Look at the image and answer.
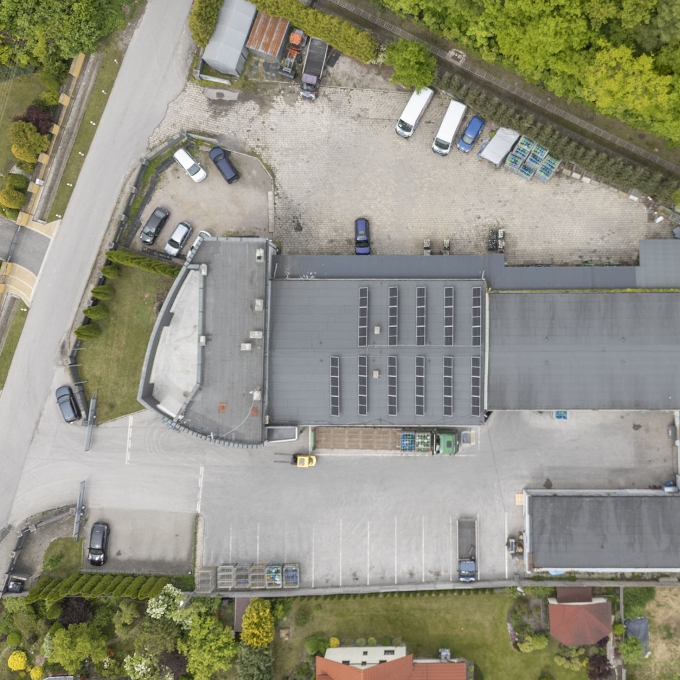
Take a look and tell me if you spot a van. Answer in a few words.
Yes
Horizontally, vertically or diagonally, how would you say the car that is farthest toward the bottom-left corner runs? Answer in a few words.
vertically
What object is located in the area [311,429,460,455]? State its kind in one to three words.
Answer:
truck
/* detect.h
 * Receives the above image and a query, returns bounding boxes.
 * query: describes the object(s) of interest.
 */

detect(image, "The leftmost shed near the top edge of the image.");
[203,0,258,82]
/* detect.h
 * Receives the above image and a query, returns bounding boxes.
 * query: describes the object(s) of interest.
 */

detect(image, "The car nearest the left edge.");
[54,384,82,425]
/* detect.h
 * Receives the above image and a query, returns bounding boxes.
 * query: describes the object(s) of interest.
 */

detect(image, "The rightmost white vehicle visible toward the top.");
[433,98,467,157]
